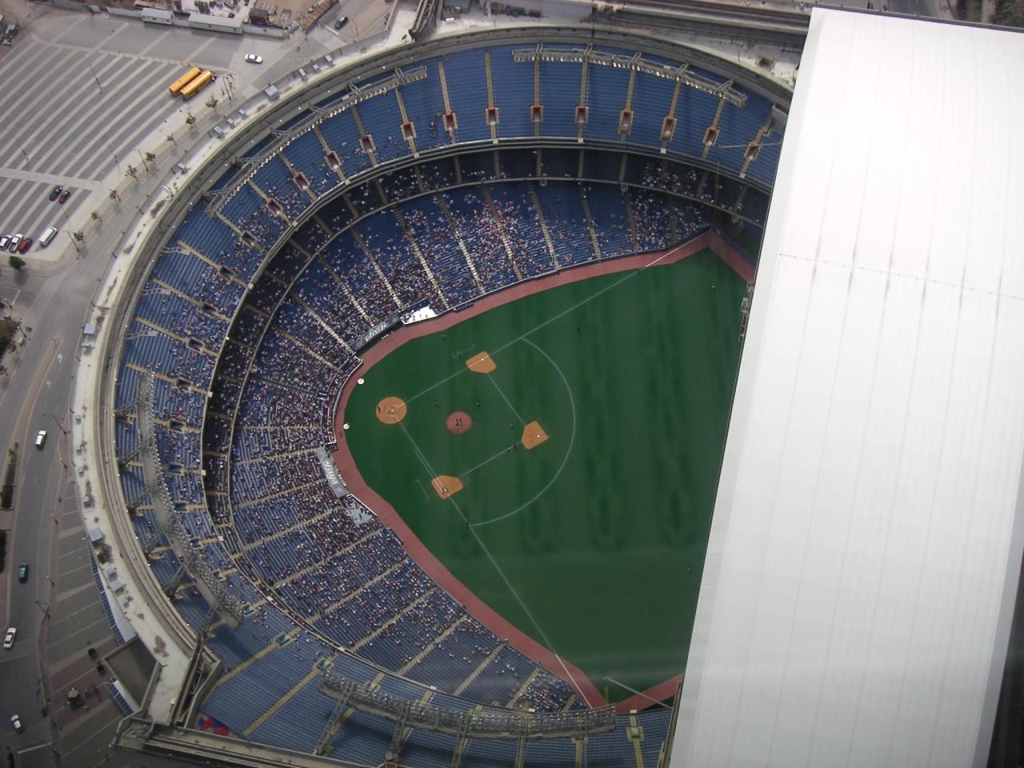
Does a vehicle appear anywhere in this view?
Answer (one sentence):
Yes, you can see a vehicle in this photo.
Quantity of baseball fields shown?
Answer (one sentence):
In total, there is 1 baseball field in the scene.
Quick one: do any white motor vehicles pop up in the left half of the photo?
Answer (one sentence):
Yes, a white motor vehicle appears in the left half of the photo.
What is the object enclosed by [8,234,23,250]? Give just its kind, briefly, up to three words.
vehicle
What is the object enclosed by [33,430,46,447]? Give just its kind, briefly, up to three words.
vehicle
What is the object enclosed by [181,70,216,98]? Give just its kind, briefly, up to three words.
bus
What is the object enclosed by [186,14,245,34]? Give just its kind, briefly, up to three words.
building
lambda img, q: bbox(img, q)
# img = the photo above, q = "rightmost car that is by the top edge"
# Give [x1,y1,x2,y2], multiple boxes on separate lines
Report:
[333,16,348,28]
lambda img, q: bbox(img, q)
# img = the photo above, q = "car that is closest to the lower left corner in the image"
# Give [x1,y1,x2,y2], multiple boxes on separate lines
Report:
[10,713,23,731]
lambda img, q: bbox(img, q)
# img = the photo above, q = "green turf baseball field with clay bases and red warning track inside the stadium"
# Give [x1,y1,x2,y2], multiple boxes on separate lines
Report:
[331,233,754,704]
